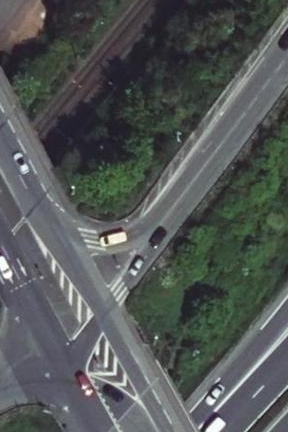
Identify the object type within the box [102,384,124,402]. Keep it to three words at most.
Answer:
car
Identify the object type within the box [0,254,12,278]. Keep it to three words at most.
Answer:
vehicle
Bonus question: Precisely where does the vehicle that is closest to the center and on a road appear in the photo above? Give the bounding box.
[148,226,166,248]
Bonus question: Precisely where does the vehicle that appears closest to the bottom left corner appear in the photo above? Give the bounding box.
[78,373,94,396]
